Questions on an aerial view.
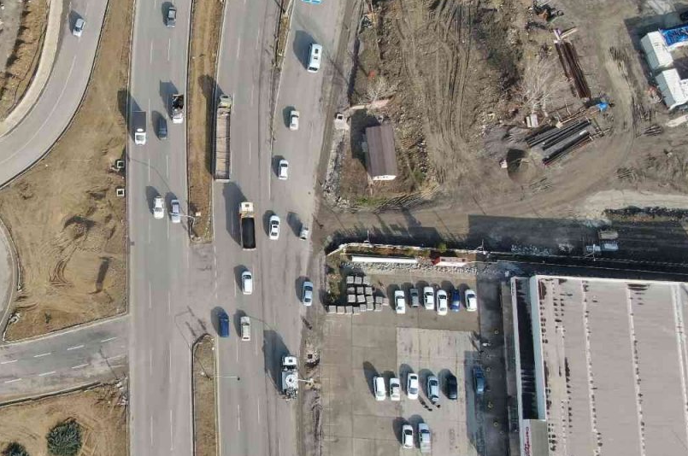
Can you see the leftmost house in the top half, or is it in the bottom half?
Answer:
top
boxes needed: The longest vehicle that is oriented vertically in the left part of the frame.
[217,91,233,180]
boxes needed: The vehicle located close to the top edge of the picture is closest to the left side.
[72,17,85,37]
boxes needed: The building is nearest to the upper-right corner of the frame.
[660,23,688,49]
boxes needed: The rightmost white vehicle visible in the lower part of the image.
[465,289,478,312]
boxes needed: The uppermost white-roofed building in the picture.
[641,30,673,73]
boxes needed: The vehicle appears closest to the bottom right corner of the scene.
[471,366,486,395]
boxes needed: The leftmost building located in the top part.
[359,124,396,180]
